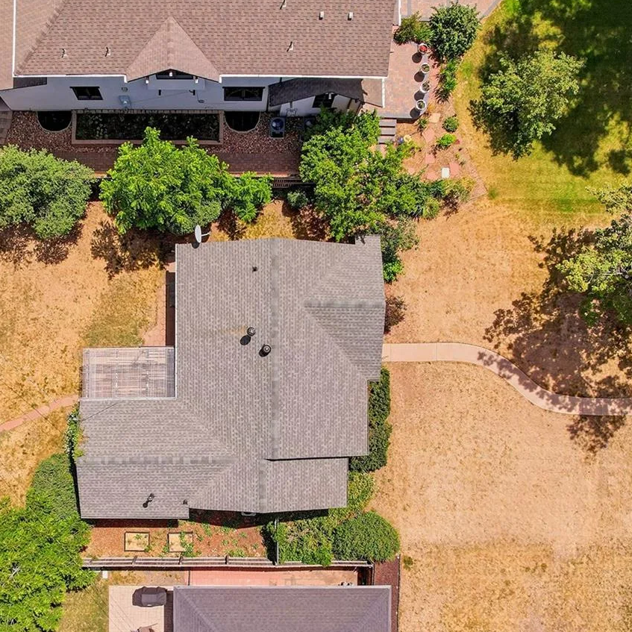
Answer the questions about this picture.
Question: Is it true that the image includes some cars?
No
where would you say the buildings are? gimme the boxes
[170,583,392,632]
[77,236,385,520]
[0,0,403,117]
